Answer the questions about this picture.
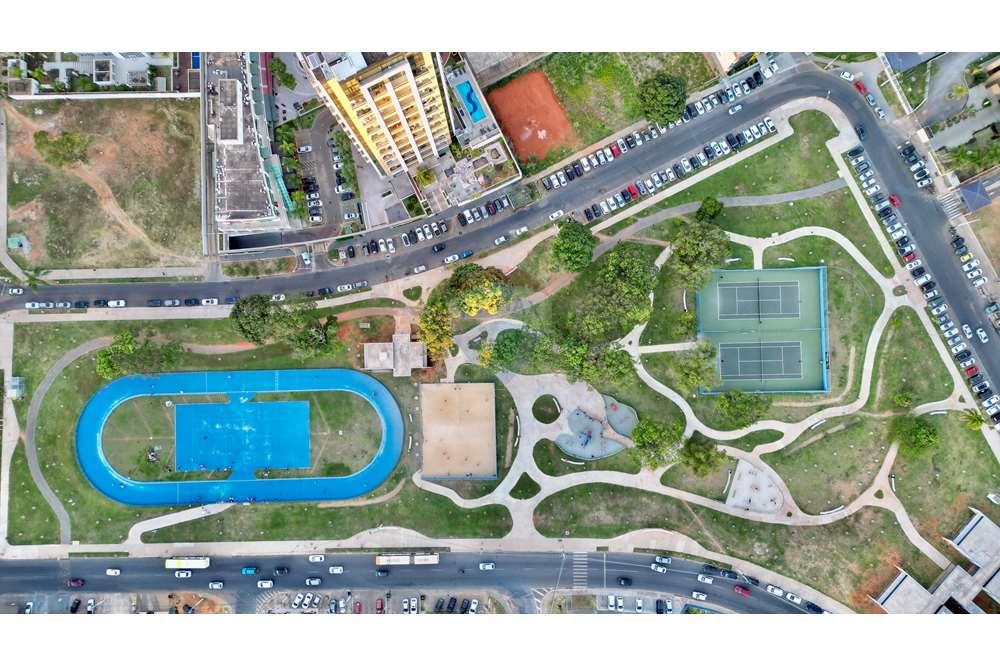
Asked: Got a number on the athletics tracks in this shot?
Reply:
1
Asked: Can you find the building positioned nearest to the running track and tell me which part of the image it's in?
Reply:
center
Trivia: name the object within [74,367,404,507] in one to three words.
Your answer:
running track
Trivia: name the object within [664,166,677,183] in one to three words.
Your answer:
vehicle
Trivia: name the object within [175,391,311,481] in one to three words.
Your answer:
sports court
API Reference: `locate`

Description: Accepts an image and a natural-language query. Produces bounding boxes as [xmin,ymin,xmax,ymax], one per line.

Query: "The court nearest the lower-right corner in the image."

[720,339,803,383]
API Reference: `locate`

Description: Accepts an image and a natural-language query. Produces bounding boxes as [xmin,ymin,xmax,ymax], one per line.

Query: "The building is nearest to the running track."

[361,334,427,377]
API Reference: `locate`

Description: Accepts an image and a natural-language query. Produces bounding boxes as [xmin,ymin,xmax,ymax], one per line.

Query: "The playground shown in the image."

[553,394,640,461]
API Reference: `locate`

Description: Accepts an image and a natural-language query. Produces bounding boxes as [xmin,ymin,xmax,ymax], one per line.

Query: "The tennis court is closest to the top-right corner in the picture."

[718,277,800,323]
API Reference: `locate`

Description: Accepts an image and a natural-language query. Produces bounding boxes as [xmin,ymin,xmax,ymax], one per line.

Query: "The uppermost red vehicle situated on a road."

[853,80,867,96]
